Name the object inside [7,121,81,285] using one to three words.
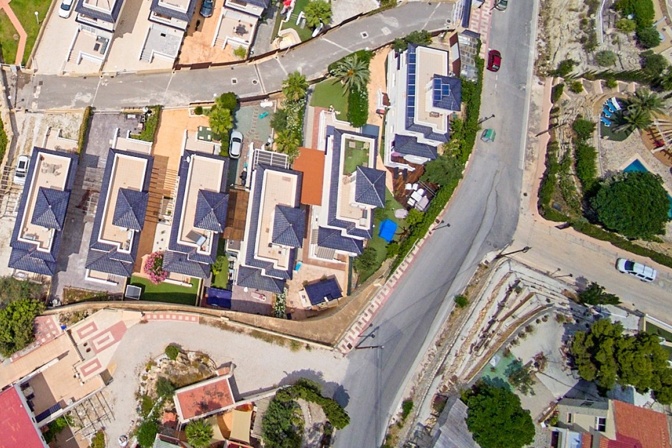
house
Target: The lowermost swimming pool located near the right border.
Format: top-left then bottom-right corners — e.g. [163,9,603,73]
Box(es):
[618,154,672,227]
